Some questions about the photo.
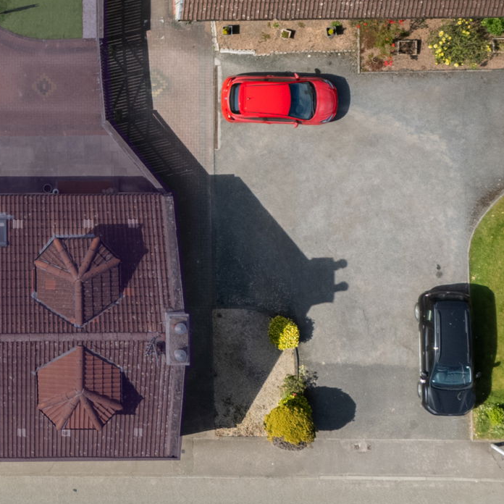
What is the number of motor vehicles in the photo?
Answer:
2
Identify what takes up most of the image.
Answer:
paved ground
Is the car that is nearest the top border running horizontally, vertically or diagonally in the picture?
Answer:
horizontally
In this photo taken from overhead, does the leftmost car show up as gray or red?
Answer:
red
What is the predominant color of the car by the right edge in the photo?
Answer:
black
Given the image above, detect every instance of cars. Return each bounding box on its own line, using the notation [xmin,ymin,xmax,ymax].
[224,68,342,128]
[419,290,486,419]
